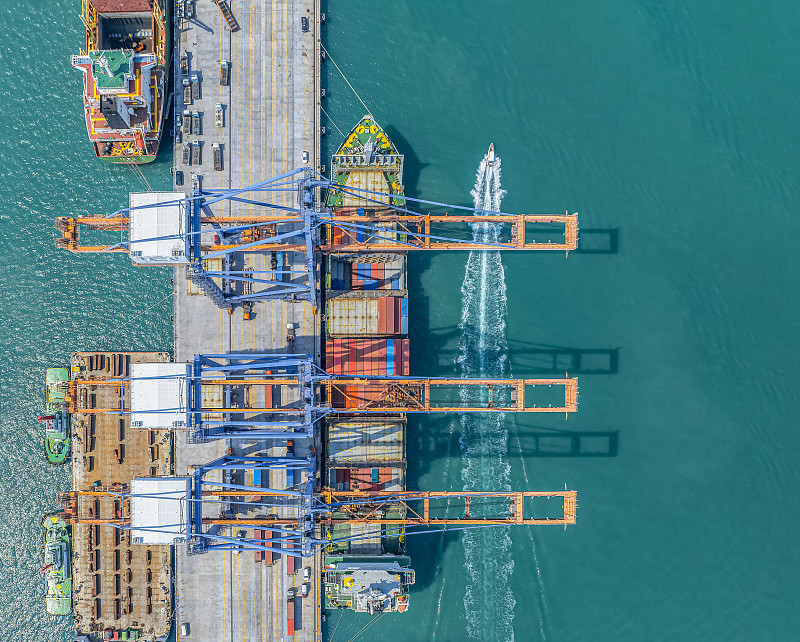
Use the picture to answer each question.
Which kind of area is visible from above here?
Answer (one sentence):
The area seen from above is a port.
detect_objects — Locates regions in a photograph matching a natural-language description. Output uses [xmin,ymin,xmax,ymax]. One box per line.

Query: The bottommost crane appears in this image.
[53,446,584,562]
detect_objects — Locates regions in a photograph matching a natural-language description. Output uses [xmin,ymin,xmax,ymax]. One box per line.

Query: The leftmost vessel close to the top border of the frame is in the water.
[72,0,173,171]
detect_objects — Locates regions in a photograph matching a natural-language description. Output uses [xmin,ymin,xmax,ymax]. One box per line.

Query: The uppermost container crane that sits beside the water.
[53,165,584,315]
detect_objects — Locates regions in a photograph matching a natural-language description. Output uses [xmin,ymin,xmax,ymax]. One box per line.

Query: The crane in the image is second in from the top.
[53,351,584,447]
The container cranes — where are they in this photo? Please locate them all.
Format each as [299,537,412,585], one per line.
[53,351,584,447]
[53,446,584,562]
[53,165,584,315]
